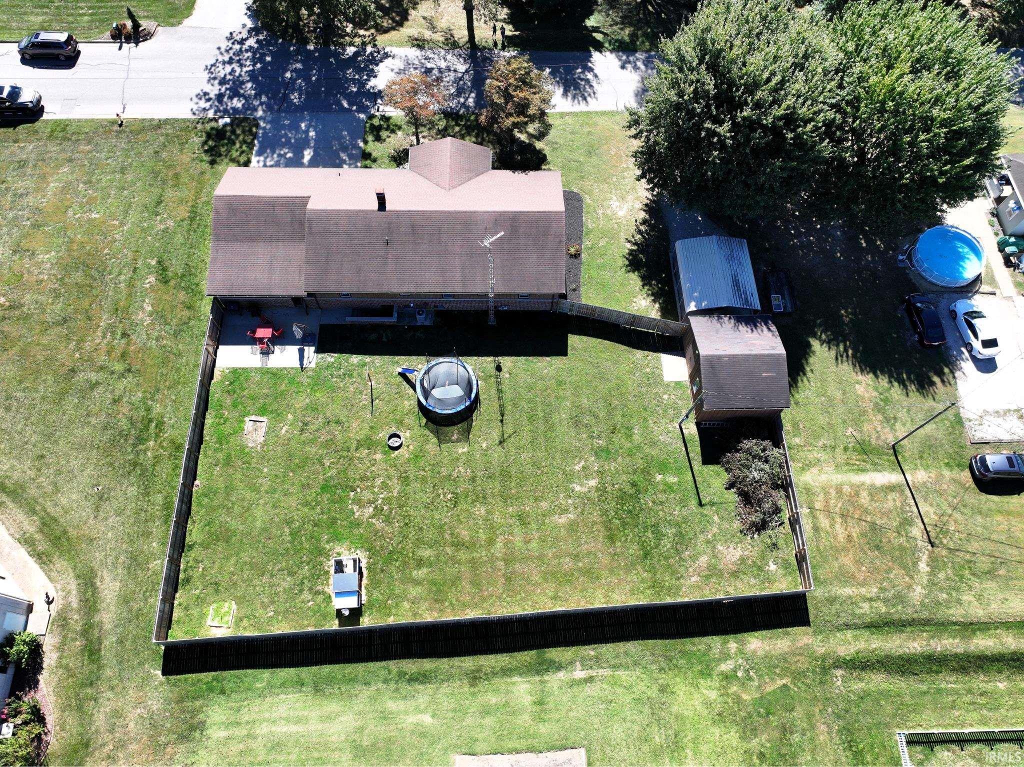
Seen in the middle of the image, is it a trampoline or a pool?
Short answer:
trampoline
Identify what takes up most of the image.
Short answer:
grass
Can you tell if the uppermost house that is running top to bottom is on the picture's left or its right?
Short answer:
right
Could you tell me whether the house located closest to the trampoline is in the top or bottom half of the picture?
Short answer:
top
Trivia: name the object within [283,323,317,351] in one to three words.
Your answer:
umbrella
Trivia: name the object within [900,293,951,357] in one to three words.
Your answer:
car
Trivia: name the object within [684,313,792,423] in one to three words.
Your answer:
shed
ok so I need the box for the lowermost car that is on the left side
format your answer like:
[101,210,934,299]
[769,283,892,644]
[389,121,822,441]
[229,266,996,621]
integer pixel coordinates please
[0,86,49,117]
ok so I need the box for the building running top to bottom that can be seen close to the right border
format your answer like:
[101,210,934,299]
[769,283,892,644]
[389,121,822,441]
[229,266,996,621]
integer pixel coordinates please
[990,151,1024,236]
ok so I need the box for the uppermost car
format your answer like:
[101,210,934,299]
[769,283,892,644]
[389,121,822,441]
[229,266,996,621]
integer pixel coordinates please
[13,34,84,67]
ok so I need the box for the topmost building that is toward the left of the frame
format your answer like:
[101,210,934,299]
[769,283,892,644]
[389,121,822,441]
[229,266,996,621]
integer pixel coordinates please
[208,134,566,322]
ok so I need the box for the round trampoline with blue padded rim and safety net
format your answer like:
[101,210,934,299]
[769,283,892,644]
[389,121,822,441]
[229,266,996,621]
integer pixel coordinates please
[412,346,478,418]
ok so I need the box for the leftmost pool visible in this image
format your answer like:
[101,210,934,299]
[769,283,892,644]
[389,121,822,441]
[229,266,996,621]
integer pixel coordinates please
[900,224,985,297]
